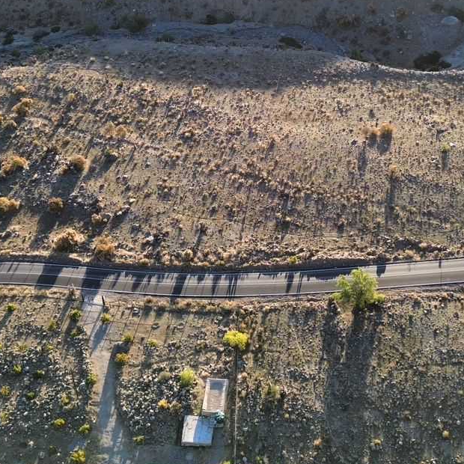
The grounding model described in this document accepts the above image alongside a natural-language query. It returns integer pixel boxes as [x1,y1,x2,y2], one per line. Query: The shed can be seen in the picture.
[181,414,215,453]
